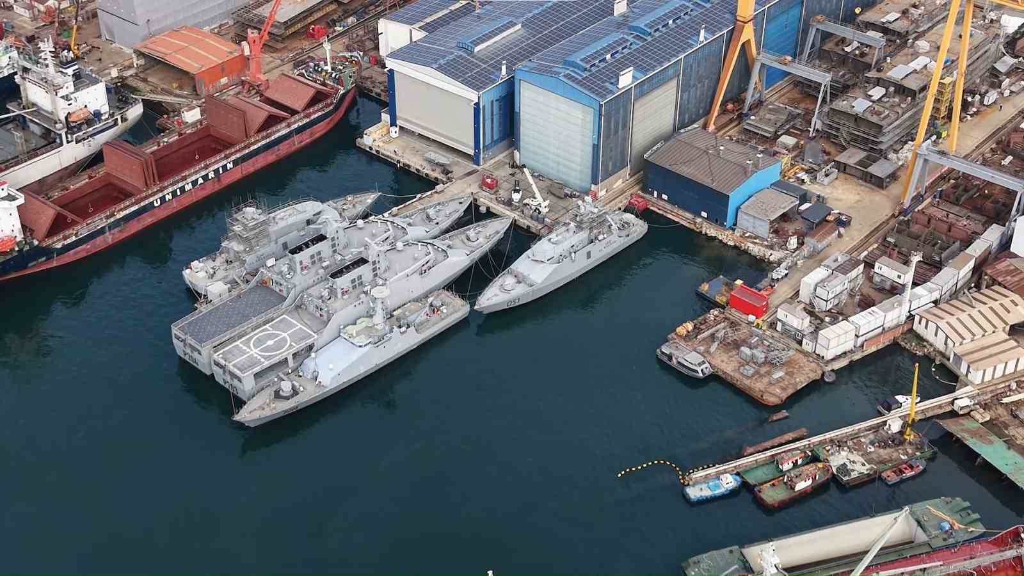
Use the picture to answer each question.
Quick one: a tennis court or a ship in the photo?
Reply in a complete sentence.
The image shows a ship.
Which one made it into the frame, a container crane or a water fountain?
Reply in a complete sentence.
Visible in the photo is a container crane.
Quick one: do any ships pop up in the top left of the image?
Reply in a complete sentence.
Yes, the scene does show a ship in the top left of the image.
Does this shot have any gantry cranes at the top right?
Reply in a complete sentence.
Yes, at the top right there is a gantry crane.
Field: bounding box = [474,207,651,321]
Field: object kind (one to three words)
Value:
vessel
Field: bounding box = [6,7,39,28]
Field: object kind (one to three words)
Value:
house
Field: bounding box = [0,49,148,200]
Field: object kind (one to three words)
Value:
ship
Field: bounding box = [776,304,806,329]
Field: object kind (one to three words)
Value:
building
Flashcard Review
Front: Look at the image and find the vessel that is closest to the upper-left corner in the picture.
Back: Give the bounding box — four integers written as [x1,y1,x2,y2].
[0,48,29,102]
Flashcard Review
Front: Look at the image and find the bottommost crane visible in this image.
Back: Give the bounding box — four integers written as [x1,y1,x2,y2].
[897,361,929,447]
